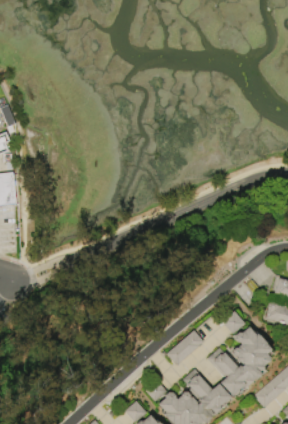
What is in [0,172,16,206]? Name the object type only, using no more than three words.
building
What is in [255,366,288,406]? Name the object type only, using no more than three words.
building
